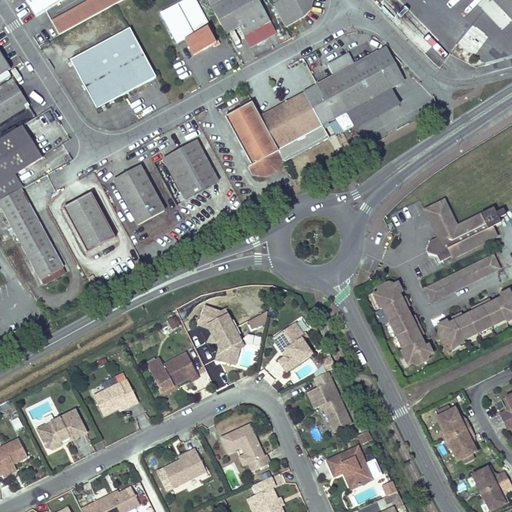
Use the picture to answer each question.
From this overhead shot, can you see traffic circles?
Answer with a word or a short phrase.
Yes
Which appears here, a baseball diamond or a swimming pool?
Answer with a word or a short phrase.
swimming pool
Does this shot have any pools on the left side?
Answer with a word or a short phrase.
Yes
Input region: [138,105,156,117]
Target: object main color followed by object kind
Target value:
white vehicle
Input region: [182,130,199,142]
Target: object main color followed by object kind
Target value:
white vehicle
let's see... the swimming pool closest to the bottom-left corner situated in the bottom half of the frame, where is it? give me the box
[28,400,53,420]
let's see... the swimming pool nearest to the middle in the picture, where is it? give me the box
[240,350,256,368]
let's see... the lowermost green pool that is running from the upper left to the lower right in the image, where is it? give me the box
[225,468,242,490]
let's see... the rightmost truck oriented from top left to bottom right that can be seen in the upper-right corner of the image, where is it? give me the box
[424,32,448,58]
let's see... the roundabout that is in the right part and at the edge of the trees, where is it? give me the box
[291,216,341,266]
